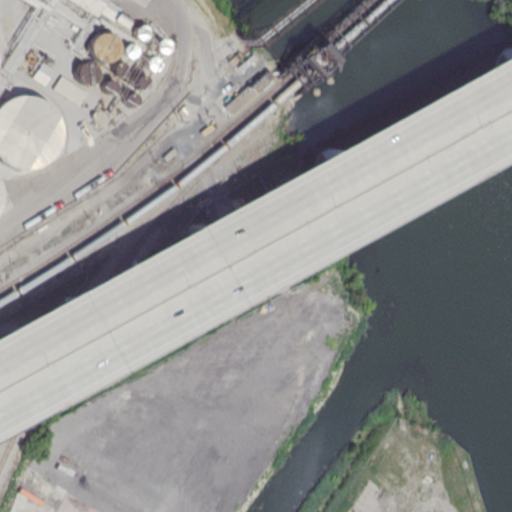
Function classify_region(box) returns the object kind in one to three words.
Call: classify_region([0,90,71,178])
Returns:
storage tank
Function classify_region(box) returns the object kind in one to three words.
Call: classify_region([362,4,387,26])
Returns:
rail car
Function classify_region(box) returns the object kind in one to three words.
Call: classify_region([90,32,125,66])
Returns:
storage tank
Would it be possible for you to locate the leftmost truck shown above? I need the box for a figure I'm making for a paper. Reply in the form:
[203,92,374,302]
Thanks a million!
[22,202,62,229]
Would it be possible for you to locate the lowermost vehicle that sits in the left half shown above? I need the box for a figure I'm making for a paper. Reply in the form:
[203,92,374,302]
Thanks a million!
[54,462,76,477]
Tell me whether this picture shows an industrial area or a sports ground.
industrial area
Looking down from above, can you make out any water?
Yes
